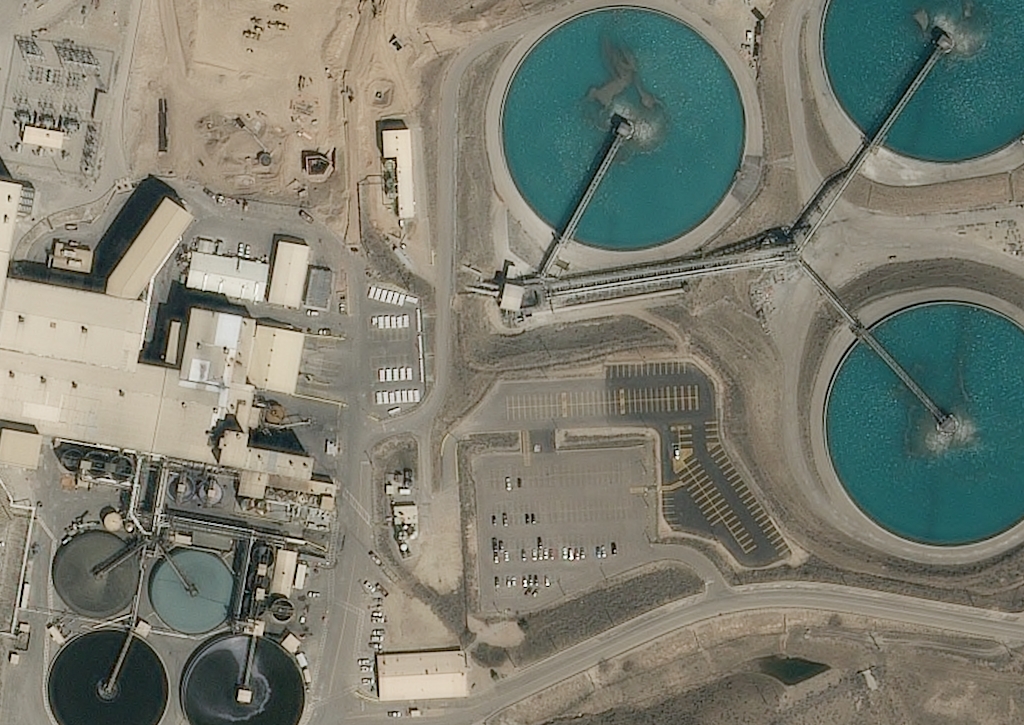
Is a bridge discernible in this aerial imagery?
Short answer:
Yes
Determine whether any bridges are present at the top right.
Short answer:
Yes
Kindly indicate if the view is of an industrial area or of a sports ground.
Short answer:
industrial area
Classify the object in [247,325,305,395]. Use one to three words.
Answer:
shed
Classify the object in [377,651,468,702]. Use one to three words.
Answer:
building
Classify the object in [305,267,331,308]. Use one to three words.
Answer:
shed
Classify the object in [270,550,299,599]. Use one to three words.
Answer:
building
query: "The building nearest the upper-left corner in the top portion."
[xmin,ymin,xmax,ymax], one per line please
[23,126,64,150]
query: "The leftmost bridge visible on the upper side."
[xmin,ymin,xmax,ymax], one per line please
[538,132,619,283]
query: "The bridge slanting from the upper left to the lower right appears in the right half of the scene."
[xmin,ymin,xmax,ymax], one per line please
[798,256,944,421]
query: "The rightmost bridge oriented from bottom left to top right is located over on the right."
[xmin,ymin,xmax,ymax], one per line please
[796,45,938,246]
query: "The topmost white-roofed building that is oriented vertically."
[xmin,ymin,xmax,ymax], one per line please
[383,129,414,218]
